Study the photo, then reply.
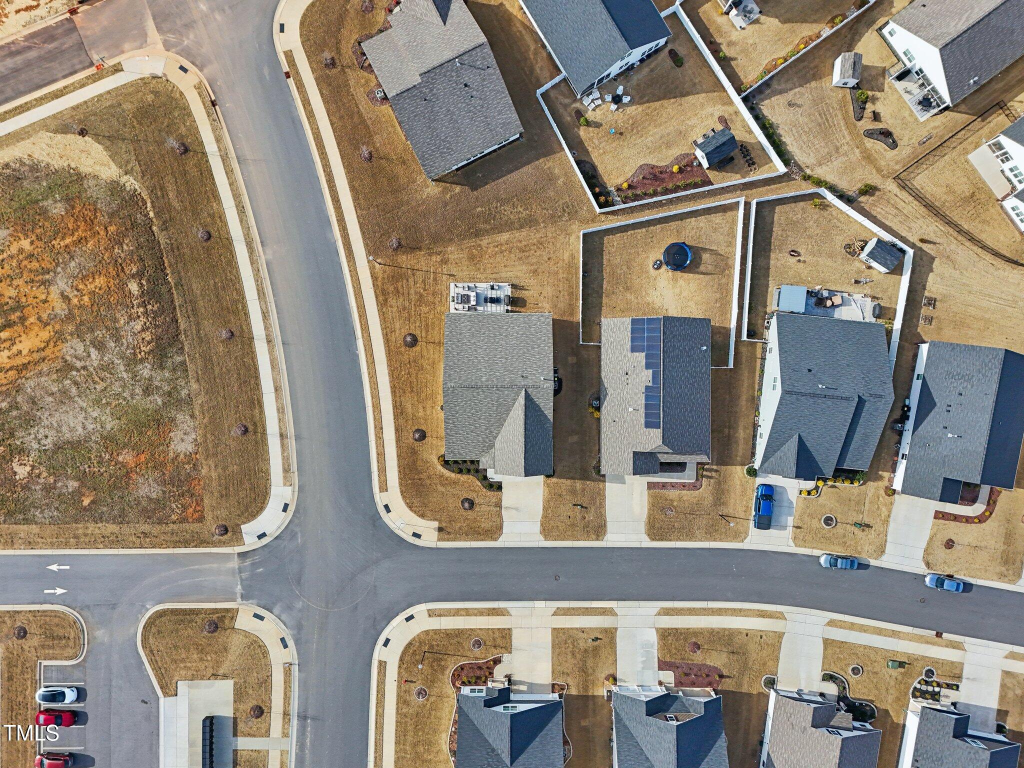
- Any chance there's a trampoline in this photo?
Yes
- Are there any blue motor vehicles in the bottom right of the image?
Yes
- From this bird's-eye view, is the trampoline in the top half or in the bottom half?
top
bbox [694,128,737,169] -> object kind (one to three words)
shed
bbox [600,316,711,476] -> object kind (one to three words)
house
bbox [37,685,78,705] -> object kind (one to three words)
car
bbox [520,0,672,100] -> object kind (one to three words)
house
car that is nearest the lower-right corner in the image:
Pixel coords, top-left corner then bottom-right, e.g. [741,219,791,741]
[923,572,964,593]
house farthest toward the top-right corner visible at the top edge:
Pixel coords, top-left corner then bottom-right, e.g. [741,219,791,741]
[882,0,1024,109]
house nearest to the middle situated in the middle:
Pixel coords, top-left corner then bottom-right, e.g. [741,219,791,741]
[442,313,554,477]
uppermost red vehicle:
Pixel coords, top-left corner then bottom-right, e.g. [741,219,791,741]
[37,708,78,729]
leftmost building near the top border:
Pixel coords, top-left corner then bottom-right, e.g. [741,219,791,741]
[361,0,524,180]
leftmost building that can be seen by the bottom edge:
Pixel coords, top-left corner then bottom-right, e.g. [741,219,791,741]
[456,679,564,768]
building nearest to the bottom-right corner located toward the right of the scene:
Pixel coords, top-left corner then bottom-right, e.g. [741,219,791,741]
[901,699,1021,768]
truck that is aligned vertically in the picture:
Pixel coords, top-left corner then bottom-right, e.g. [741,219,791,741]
[752,483,775,531]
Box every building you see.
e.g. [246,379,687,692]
[442,313,554,477]
[456,679,564,768]
[520,0,672,100]
[893,341,1024,504]
[882,0,1024,109]
[361,0,524,180]
[612,683,729,768]
[833,52,863,87]
[987,114,1024,232]
[759,687,882,768]
[860,238,903,272]
[694,128,737,169]
[600,316,711,476]
[754,312,894,481]
[901,699,1021,768]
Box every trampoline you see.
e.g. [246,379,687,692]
[662,241,693,271]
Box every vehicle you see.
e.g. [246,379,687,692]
[38,752,77,768]
[923,572,964,593]
[37,708,78,729]
[818,552,858,571]
[752,483,775,531]
[37,685,78,705]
